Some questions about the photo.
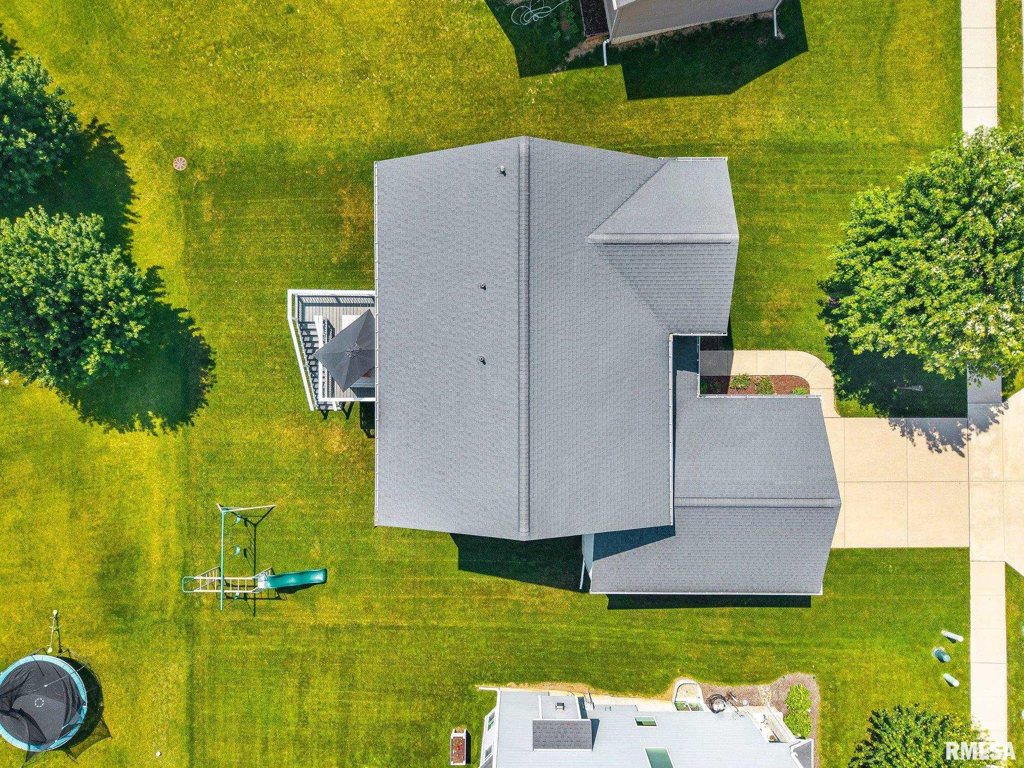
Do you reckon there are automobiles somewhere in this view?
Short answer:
No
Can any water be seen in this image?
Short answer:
No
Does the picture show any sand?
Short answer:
No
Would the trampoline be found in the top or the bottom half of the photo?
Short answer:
bottom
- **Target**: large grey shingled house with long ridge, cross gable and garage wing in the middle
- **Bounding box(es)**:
[374,136,842,596]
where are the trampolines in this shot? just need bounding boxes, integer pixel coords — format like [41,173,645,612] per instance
[0,648,99,762]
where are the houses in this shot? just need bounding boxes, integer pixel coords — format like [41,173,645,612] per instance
[374,136,842,596]
[603,0,785,65]
[478,685,817,768]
